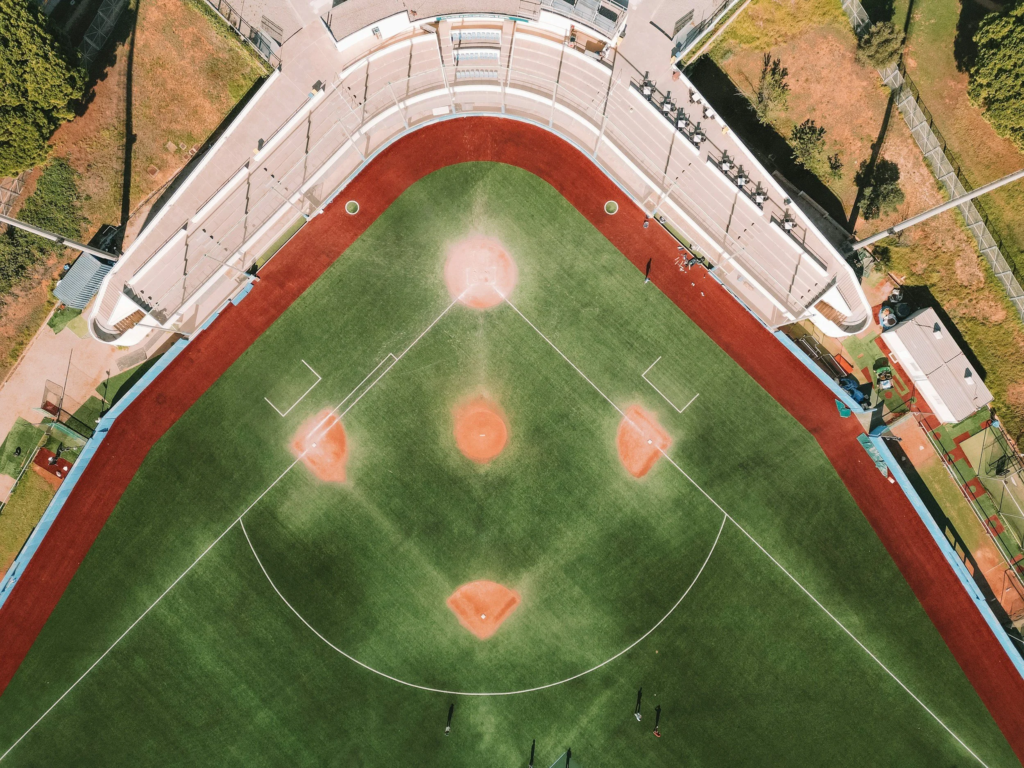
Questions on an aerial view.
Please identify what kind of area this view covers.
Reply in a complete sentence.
The picture captures a sports ground.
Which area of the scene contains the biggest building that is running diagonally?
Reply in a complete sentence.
The biggest building that is running diagonally sits in the right section of the image.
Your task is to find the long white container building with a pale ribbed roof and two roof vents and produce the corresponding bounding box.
[883,307,994,423]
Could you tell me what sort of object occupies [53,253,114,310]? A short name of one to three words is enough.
shed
